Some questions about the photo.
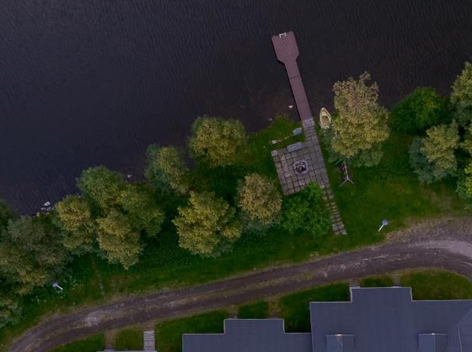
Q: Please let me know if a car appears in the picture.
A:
No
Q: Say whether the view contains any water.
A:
Yes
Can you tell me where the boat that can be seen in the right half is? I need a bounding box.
[318,107,331,129]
